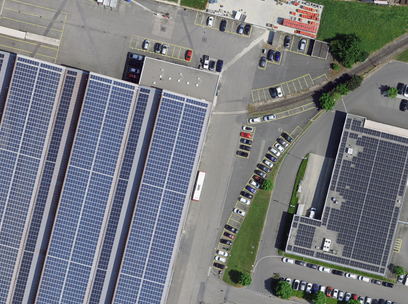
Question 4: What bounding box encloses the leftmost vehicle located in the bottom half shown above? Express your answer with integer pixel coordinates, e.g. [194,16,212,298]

[193,172,206,202]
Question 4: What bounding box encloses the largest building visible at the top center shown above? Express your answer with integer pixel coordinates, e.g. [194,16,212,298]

[138,56,220,102]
